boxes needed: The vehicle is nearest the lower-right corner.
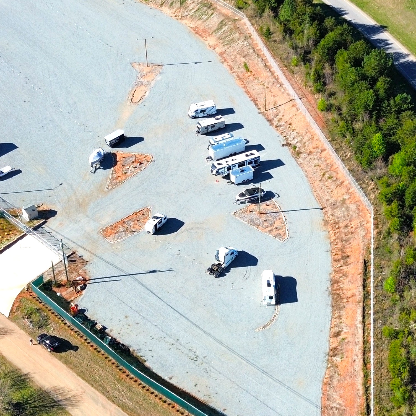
[207,249,241,276]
